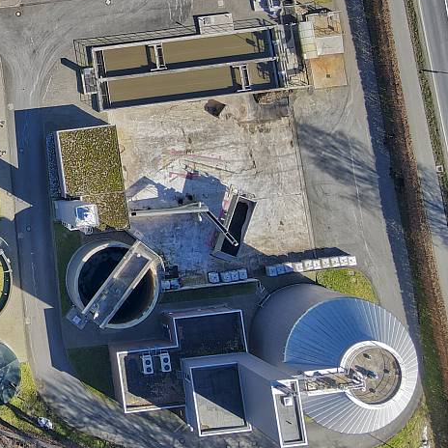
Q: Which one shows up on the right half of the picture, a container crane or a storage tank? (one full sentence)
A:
Visible on the right half of the picture is a storage tank.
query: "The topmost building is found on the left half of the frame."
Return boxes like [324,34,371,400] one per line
[53,124,131,236]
